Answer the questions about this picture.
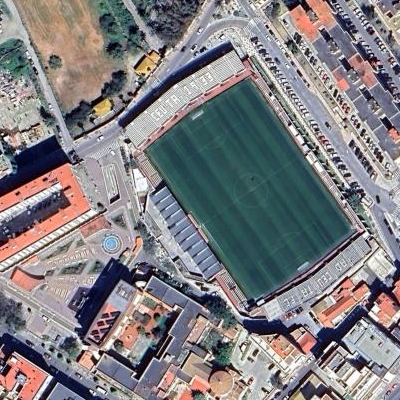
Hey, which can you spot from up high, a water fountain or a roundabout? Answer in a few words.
water fountain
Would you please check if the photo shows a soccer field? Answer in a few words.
Yes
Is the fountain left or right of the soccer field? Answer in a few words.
left of it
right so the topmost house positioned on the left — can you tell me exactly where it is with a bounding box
[134,50,161,77]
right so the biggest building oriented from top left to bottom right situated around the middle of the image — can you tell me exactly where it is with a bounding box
[145,198,205,286]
